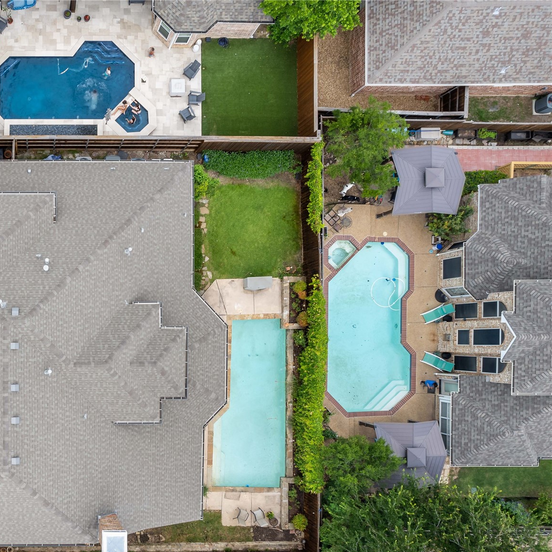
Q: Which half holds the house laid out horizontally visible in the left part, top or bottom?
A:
top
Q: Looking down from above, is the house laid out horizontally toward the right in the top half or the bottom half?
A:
top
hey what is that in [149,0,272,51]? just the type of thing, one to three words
house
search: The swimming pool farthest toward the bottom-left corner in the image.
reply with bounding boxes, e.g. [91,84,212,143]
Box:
[208,313,287,492]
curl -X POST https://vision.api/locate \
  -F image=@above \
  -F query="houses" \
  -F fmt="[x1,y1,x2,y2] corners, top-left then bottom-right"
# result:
[348,0,552,98]
[149,0,272,51]
[430,171,552,469]
[0,158,230,552]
